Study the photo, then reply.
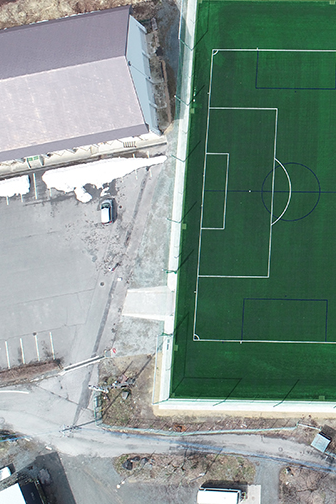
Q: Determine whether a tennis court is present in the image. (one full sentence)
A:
No, no tennis court is visible in the view.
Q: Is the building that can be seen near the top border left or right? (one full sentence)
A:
The building that can be seen near the top border is on the left side of the image.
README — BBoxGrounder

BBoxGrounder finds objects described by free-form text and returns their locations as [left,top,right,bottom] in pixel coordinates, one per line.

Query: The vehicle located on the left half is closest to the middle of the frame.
[101,199,116,224]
